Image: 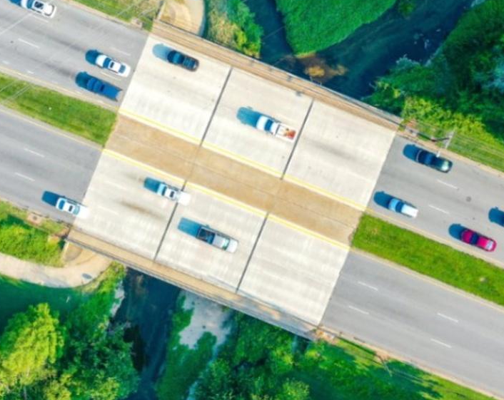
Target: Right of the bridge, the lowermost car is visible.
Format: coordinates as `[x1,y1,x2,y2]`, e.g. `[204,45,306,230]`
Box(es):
[458,227,496,252]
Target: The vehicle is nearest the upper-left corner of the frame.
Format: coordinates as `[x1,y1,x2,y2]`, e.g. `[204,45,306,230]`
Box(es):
[20,0,57,18]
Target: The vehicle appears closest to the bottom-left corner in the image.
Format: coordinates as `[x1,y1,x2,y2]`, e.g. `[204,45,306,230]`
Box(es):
[52,195,87,217]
